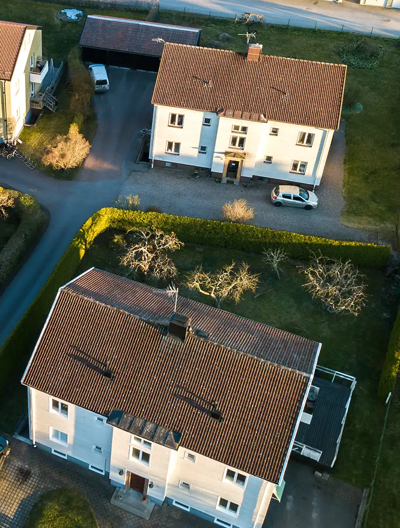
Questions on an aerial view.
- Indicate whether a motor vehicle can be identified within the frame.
Yes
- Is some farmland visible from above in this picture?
No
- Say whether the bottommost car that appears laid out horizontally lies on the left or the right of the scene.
right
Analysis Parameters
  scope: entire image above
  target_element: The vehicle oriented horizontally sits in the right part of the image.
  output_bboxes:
[270,183,320,211]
